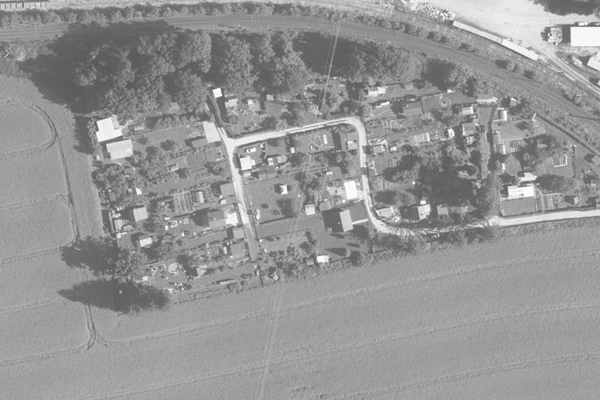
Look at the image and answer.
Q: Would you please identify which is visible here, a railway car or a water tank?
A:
railway car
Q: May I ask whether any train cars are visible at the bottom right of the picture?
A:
No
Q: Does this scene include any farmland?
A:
Yes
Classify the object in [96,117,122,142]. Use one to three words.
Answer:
house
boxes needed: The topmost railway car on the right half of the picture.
[454,19,502,46]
